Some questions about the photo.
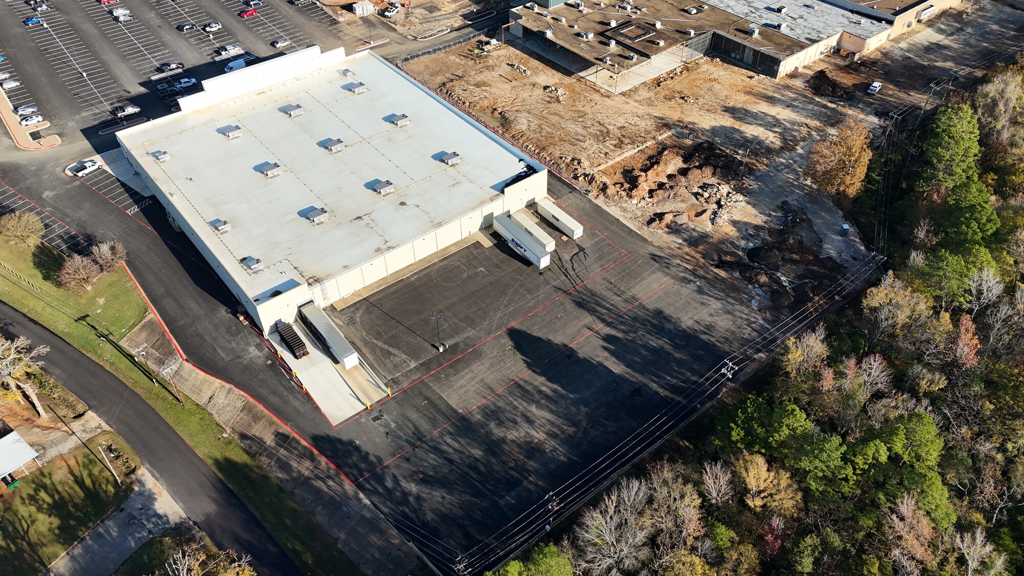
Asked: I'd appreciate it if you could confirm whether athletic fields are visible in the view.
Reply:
No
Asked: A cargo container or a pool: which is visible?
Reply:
cargo container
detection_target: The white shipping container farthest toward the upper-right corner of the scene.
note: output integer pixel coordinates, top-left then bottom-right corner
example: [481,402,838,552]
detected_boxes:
[537,199,583,240]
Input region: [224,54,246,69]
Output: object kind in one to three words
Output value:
vehicle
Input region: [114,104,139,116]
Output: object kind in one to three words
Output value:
vehicle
